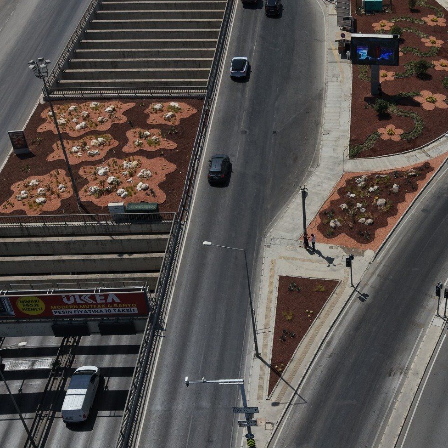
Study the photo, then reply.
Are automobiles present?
Yes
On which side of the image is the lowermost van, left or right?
left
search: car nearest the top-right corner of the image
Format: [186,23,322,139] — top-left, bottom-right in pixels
[265,0,281,18]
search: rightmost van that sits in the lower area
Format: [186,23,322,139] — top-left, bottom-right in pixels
[59,372,101,424]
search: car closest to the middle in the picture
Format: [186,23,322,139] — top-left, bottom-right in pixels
[208,155,231,187]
